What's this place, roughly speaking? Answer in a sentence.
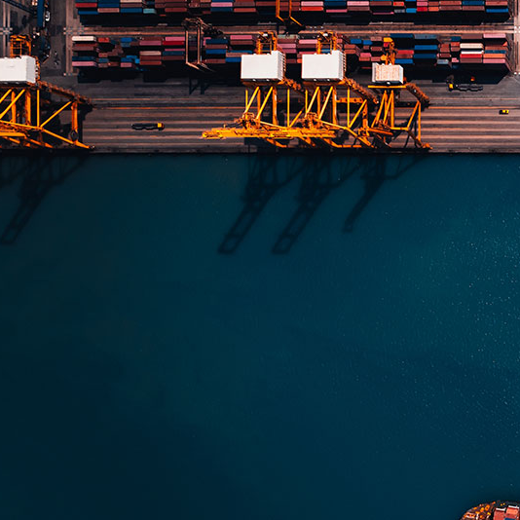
The picture captures a port.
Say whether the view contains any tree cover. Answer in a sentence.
No, there's no tree cover in this view.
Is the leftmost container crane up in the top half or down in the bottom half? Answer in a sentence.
The leftmost container crane sits in the top half of the picture.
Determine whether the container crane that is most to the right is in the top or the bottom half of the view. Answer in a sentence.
The container crane that is most to the right is in the top half of the image.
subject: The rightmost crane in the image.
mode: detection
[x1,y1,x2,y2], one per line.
[358,46,432,146]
